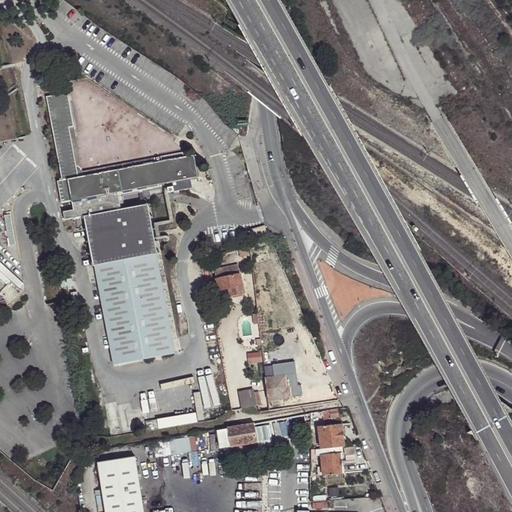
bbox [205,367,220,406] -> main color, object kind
white vehicle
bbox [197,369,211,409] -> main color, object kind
white vehicle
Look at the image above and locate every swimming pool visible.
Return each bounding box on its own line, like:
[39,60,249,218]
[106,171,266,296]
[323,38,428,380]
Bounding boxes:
[239,314,260,346]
